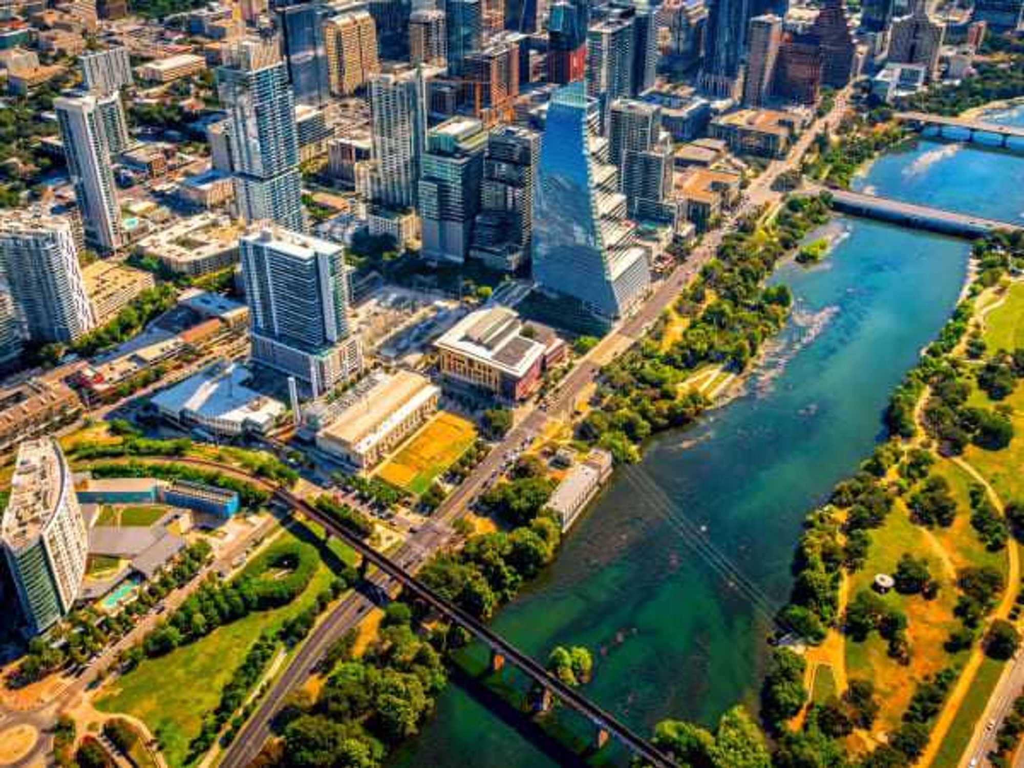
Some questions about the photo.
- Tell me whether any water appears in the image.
Yes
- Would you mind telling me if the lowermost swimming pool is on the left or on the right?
left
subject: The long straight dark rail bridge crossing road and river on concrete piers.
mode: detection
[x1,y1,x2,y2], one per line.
[276,491,686,768]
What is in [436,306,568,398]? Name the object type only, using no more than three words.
building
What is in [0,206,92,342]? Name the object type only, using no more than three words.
building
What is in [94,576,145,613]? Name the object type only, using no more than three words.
swimming pool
